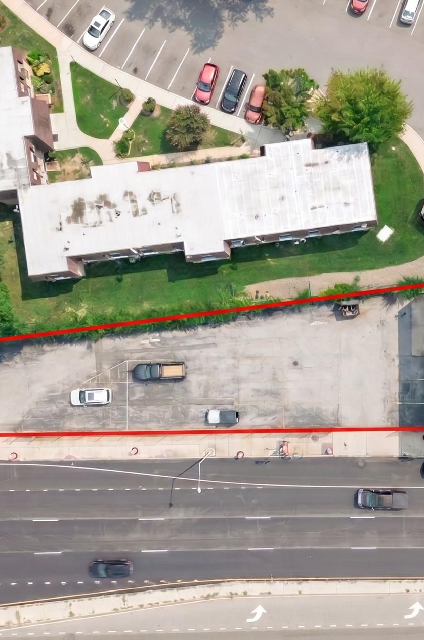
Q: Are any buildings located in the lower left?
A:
No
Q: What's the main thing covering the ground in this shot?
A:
paved ground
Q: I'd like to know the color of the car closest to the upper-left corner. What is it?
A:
white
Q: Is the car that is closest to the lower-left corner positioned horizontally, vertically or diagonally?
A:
horizontally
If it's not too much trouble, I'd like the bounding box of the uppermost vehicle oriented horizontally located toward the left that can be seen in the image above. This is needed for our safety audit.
[132,360,188,382]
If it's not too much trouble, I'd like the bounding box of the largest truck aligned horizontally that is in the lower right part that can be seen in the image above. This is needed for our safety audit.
[357,488,410,512]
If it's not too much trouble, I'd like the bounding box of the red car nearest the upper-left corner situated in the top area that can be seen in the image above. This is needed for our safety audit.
[194,61,221,105]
